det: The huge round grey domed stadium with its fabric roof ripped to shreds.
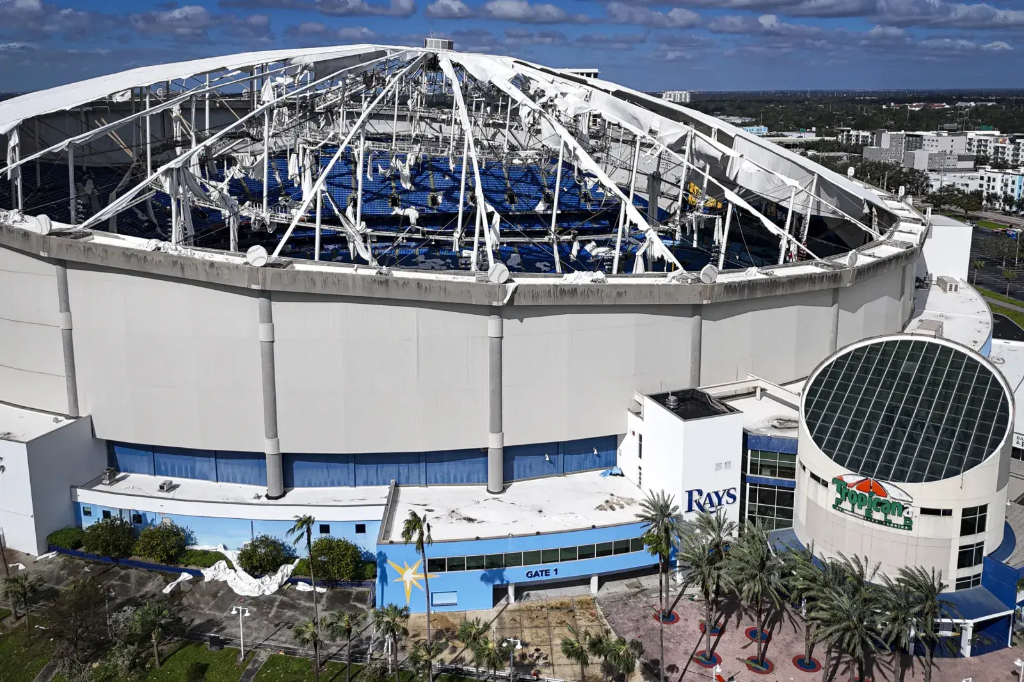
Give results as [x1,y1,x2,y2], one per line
[0,27,929,501]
